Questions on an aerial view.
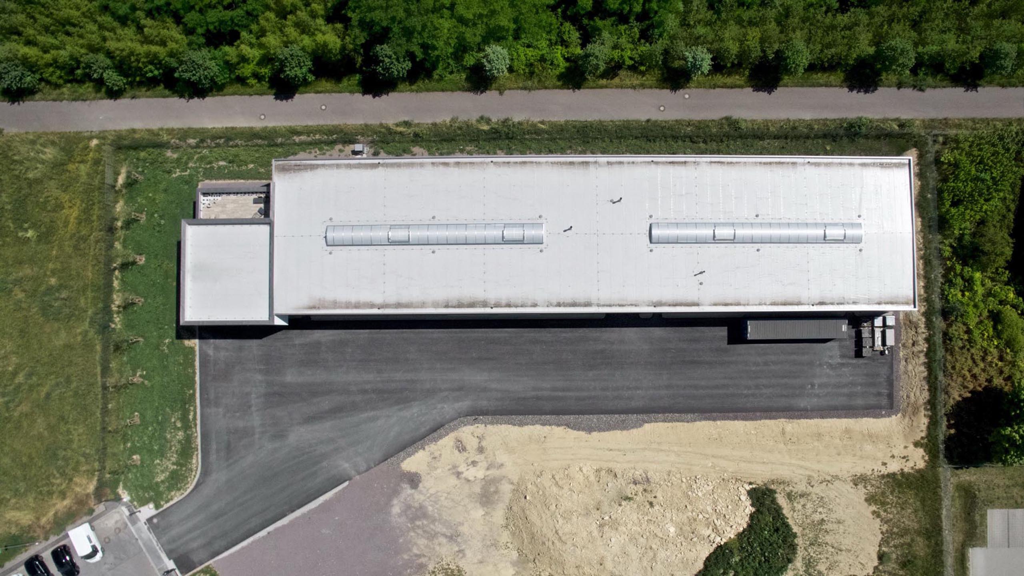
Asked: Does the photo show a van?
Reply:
Yes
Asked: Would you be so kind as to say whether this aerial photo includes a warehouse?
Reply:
Yes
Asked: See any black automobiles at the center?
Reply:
No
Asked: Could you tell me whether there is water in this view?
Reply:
No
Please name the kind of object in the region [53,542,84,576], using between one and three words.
car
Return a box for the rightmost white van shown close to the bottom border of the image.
[67,521,104,562]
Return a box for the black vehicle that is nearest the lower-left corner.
[26,553,54,576]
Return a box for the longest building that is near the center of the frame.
[273,157,917,313]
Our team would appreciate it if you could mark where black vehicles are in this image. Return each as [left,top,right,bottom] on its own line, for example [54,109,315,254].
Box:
[53,542,84,576]
[26,553,54,576]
